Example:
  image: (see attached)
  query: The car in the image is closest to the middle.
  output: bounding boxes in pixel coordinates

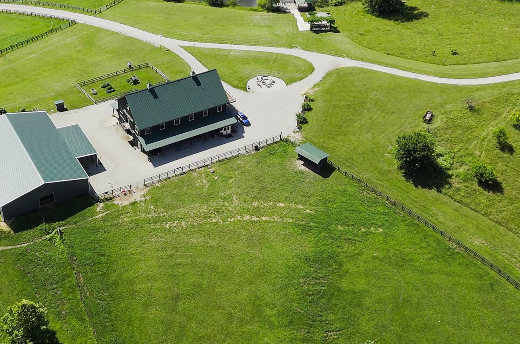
[233,108,254,125]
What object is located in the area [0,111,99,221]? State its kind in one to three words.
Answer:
barn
